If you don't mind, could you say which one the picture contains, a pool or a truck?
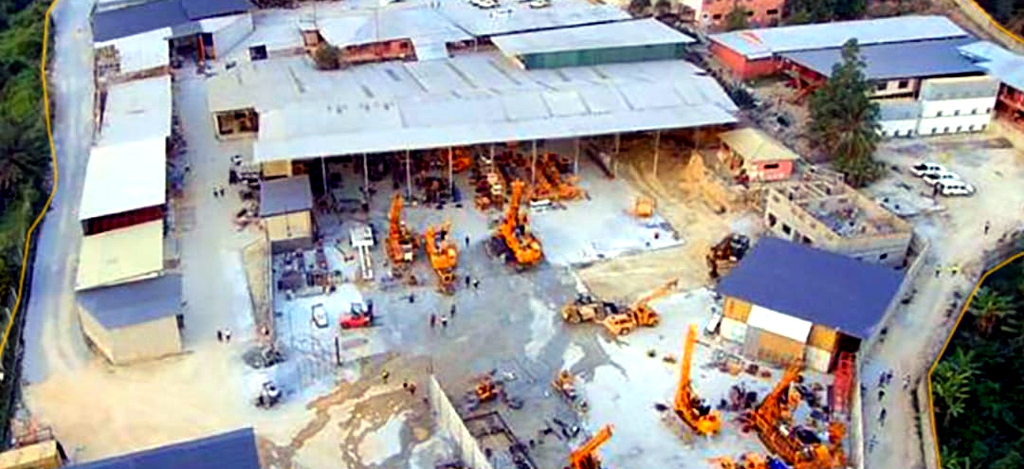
truck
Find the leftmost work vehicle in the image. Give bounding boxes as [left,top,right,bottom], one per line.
[244,380,282,418]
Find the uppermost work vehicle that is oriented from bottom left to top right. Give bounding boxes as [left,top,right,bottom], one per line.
[706,232,751,279]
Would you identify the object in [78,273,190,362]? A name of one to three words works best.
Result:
building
